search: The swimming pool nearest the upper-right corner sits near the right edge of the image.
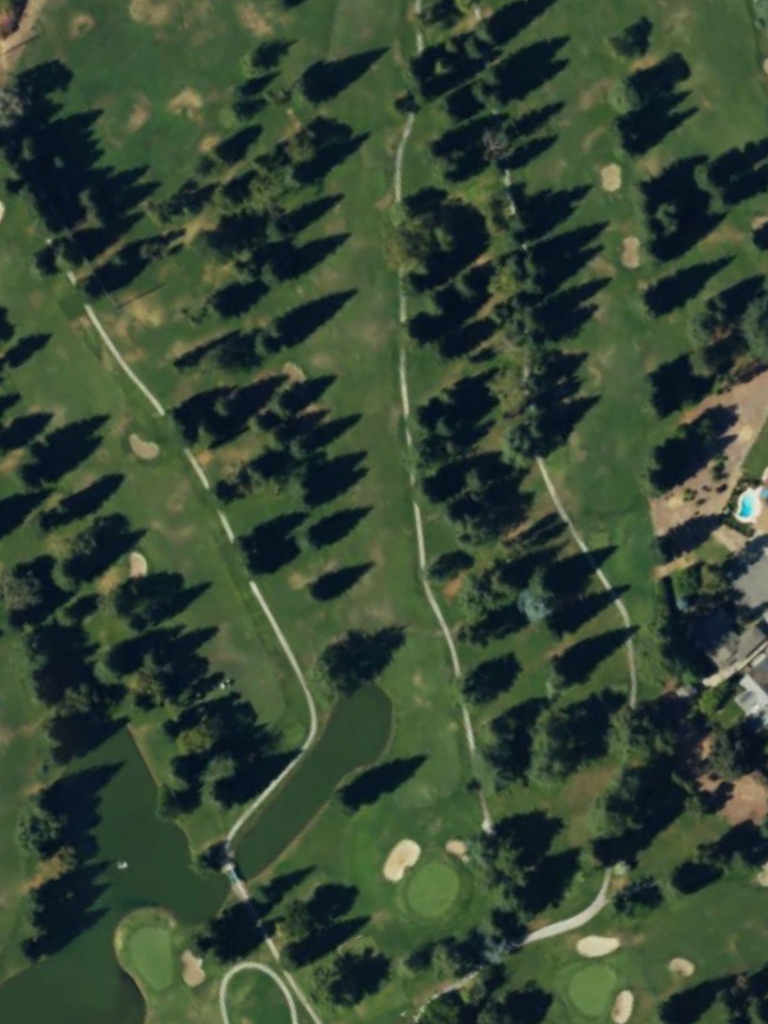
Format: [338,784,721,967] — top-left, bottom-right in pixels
[734,486,763,523]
